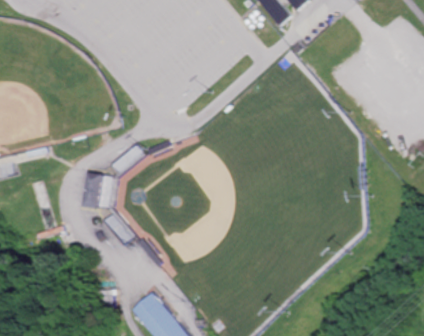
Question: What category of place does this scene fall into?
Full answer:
The picture captures a sports ground.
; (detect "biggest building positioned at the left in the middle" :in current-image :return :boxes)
[82,172,118,208]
